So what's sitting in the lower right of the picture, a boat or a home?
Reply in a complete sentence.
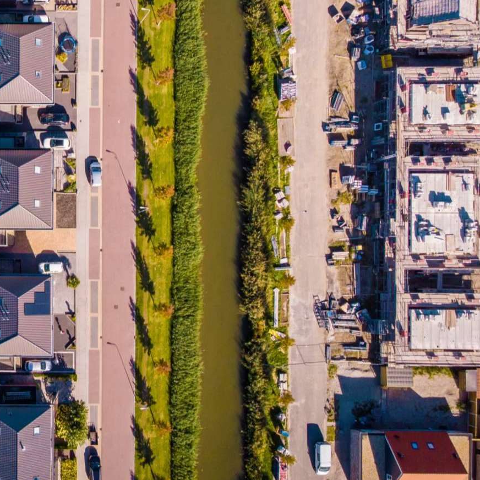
Looking in the lower right of the picture, you will find a home.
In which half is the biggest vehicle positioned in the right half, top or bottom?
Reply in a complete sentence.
The bottom half of the photo is where the biggest vehicle positioned in the right half is.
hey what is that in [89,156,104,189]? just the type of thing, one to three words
car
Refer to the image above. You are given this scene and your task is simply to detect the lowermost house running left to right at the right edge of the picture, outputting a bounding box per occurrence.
[349,426,476,480]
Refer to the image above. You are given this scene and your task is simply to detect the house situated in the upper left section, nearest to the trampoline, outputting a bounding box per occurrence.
[0,22,55,109]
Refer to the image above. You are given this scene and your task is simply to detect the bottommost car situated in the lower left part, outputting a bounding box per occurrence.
[88,454,103,480]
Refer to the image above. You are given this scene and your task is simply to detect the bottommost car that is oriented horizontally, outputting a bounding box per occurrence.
[23,360,55,375]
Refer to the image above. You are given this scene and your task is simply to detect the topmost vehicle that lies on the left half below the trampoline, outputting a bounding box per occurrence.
[39,111,71,127]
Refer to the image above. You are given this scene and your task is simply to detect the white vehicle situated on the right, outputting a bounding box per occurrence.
[316,443,337,479]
